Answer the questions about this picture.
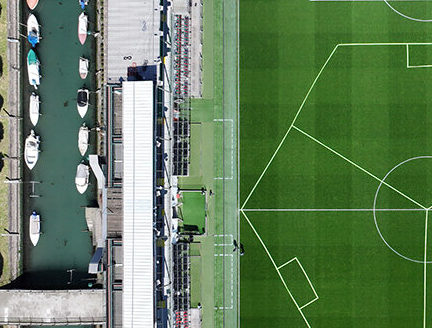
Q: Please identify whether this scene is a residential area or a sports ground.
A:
sports ground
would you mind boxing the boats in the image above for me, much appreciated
[79,55,89,80]
[27,0,40,12]
[77,125,89,156]
[29,92,41,127]
[78,14,89,45]
[26,49,42,86]
[23,136,41,170]
[26,14,40,45]
[29,212,42,247]
[75,88,89,119]
[75,163,90,195]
